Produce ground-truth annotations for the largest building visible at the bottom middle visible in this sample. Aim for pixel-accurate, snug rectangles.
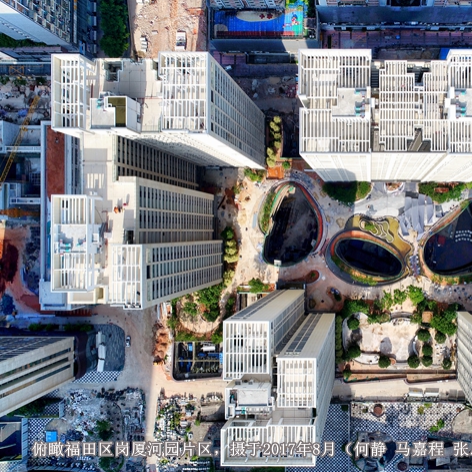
[223,291,337,465]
